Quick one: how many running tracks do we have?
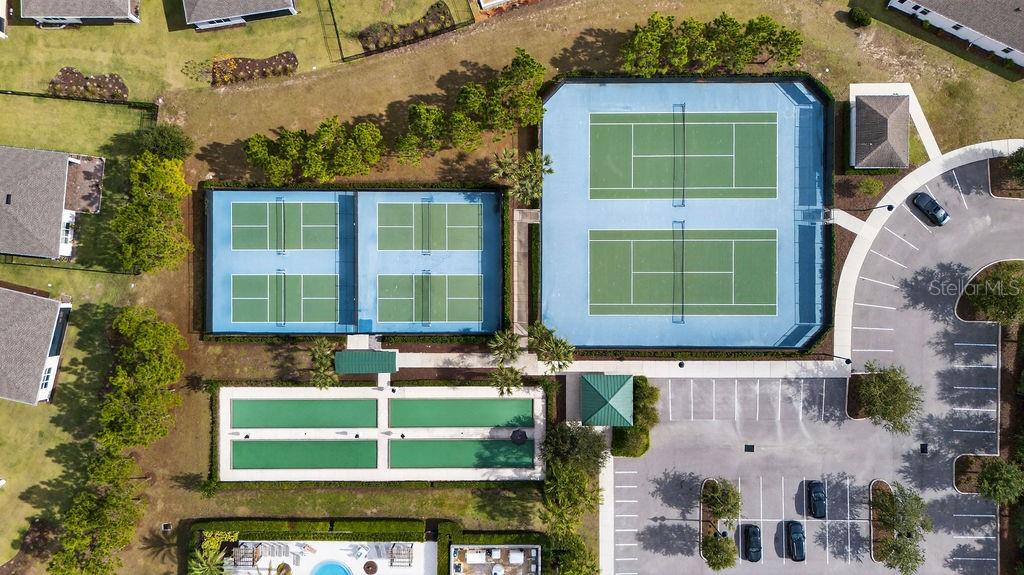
none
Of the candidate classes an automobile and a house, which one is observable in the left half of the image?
house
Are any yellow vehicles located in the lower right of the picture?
No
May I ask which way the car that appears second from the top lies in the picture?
from top to bottom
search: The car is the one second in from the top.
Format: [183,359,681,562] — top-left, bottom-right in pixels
[807,478,827,518]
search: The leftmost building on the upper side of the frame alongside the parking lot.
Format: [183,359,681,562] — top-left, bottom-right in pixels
[849,95,910,169]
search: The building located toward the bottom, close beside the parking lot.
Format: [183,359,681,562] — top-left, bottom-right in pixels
[580,375,633,427]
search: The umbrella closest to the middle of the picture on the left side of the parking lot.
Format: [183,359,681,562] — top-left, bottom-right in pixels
[510,428,527,445]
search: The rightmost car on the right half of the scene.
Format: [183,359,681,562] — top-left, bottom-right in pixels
[914,192,950,225]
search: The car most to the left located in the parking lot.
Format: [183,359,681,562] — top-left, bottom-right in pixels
[743,522,762,561]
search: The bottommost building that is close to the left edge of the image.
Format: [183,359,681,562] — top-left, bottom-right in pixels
[0,289,71,408]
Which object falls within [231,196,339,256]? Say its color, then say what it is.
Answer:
green sports court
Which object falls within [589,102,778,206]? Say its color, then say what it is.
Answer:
green tennis court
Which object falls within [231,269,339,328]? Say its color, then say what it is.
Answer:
green sports court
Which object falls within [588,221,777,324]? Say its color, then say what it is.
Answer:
green tennis court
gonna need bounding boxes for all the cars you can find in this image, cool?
[743,522,762,561]
[914,192,950,225]
[786,520,806,560]
[807,478,827,518]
